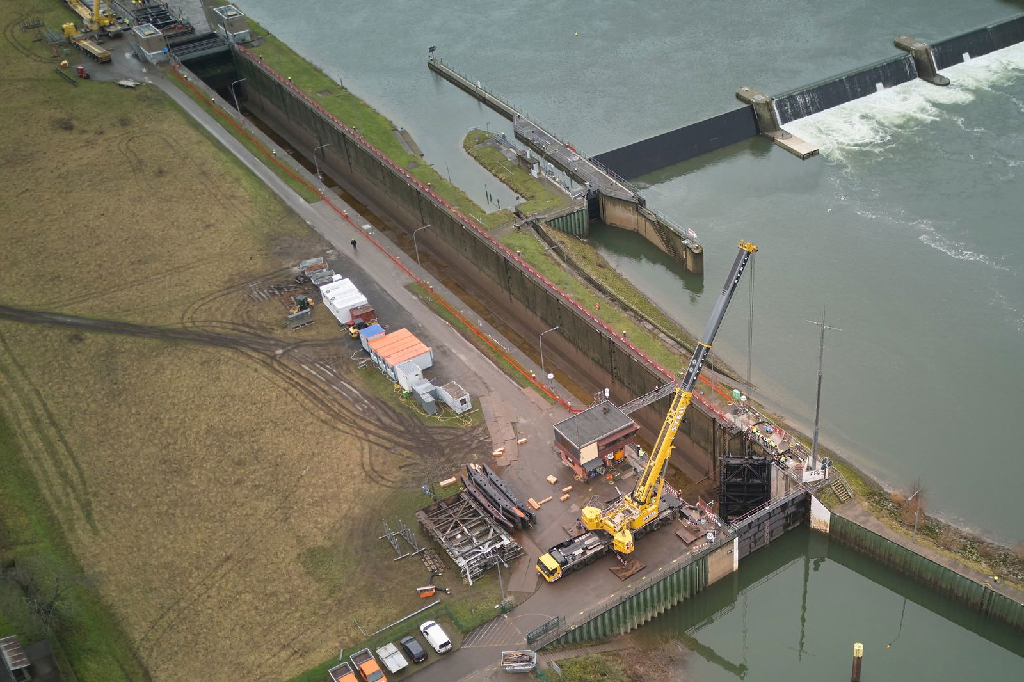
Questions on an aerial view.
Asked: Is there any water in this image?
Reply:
Yes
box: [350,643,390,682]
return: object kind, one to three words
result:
truck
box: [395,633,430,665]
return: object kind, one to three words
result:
car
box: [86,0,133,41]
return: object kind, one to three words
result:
crane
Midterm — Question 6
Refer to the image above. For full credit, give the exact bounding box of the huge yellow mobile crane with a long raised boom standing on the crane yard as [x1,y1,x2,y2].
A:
[532,245,757,587]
